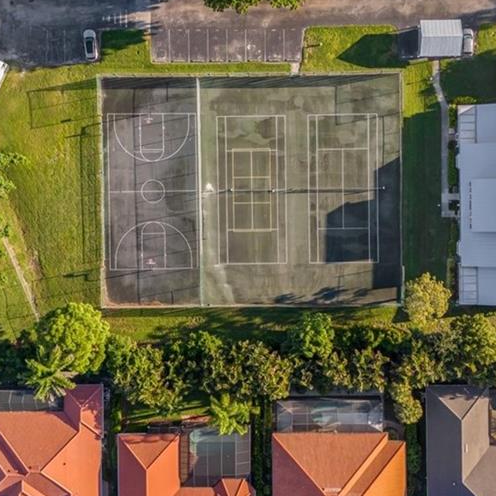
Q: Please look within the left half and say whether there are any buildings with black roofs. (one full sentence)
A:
No, I can find no building with a black roof within the left half.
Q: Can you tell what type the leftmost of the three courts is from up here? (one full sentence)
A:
In the photo, the leftmost of the three courts shows up as a basketball court.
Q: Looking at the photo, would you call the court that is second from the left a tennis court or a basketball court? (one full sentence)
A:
The court that is second from the left in the image is a tennis court.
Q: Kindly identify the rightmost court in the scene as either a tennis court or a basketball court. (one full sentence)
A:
I'd identify the rightmost court as a tennis court.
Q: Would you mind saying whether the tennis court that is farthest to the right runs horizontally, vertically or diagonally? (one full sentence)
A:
What the image shows is the tennis court that is farthest to the right lying vertically.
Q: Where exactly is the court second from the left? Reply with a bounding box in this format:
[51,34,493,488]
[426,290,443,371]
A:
[199,77,299,305]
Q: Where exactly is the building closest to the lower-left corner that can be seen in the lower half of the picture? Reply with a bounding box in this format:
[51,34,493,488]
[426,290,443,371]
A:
[0,385,103,496]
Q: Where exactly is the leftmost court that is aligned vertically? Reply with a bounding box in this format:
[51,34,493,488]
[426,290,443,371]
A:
[101,78,200,305]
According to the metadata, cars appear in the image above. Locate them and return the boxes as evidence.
[462,26,476,58]
[83,29,99,62]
